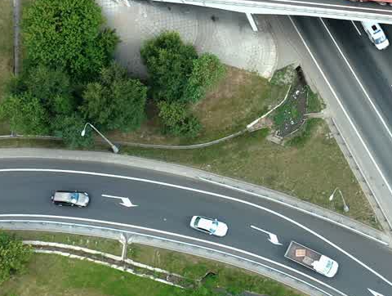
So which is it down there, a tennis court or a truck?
truck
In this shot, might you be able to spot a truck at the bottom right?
Yes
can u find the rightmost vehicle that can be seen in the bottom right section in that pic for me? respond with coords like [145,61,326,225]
[284,240,341,278]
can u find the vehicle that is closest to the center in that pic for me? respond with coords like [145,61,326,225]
[188,214,230,237]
